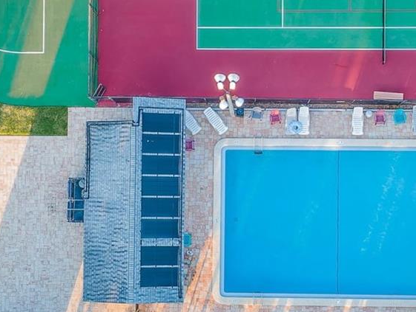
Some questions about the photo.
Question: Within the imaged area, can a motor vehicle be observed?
No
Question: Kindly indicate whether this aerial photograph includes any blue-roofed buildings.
Yes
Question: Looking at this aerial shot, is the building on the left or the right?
left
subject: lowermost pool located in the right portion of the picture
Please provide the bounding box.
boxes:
[213,138,416,307]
